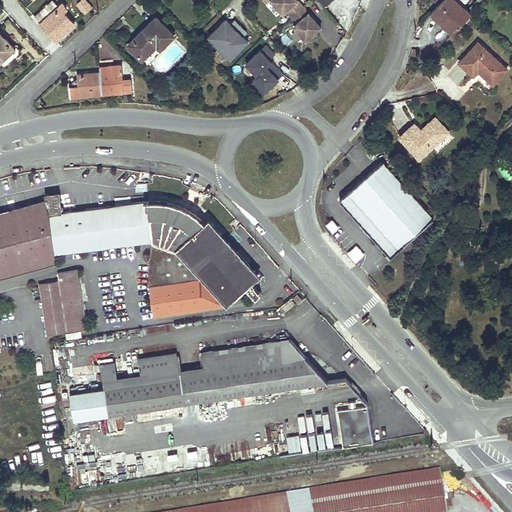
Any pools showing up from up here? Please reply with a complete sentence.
Yes, a pool is visible in the scene.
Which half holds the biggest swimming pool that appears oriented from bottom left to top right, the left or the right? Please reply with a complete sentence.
The biggest swimming pool that appears oriented from bottom left to top right appears in the left half of the scene.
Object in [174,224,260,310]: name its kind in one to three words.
building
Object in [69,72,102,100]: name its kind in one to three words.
house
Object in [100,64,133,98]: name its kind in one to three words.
house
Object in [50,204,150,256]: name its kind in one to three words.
building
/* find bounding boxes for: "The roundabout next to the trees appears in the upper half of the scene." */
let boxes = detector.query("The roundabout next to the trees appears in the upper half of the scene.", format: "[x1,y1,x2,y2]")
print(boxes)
[218,114,318,214]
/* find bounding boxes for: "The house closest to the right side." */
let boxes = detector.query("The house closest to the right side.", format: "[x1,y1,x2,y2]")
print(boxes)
[458,37,508,88]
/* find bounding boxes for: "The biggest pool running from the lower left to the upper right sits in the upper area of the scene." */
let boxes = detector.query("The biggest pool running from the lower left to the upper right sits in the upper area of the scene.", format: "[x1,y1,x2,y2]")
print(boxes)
[153,40,186,72]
